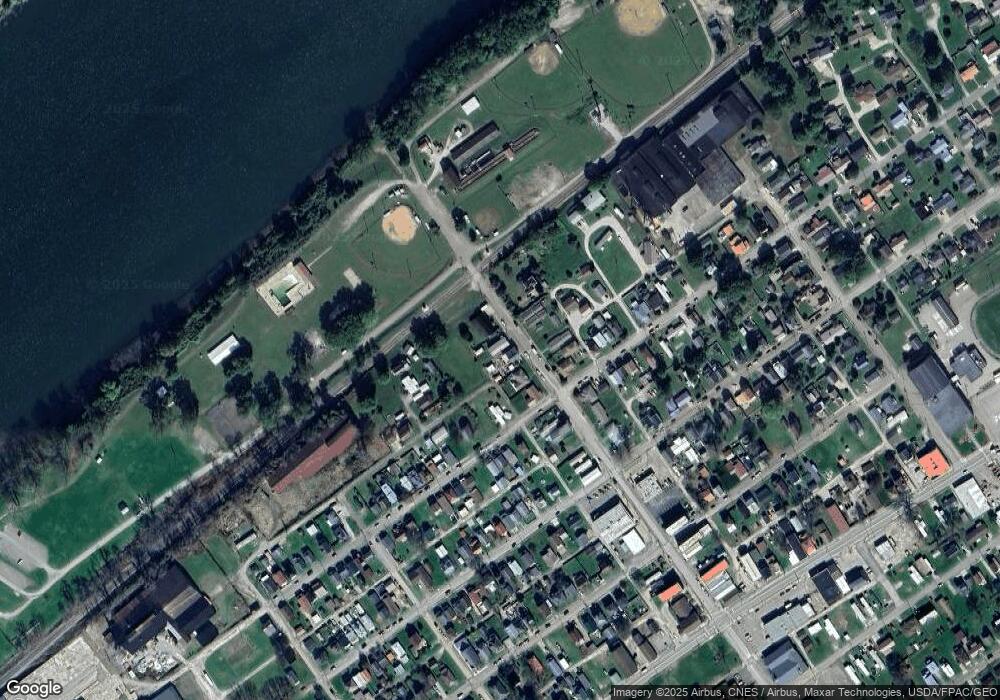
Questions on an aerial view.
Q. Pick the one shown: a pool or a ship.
pool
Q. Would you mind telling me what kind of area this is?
residential area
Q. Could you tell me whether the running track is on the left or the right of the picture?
right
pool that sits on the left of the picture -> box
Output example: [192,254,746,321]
[257,263,313,316]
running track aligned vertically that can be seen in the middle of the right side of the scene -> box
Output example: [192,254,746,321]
[969,271,1000,363]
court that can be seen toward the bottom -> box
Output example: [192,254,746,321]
[206,397,257,446]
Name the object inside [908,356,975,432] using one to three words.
building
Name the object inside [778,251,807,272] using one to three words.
house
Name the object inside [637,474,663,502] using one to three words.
building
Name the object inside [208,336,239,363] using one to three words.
shed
